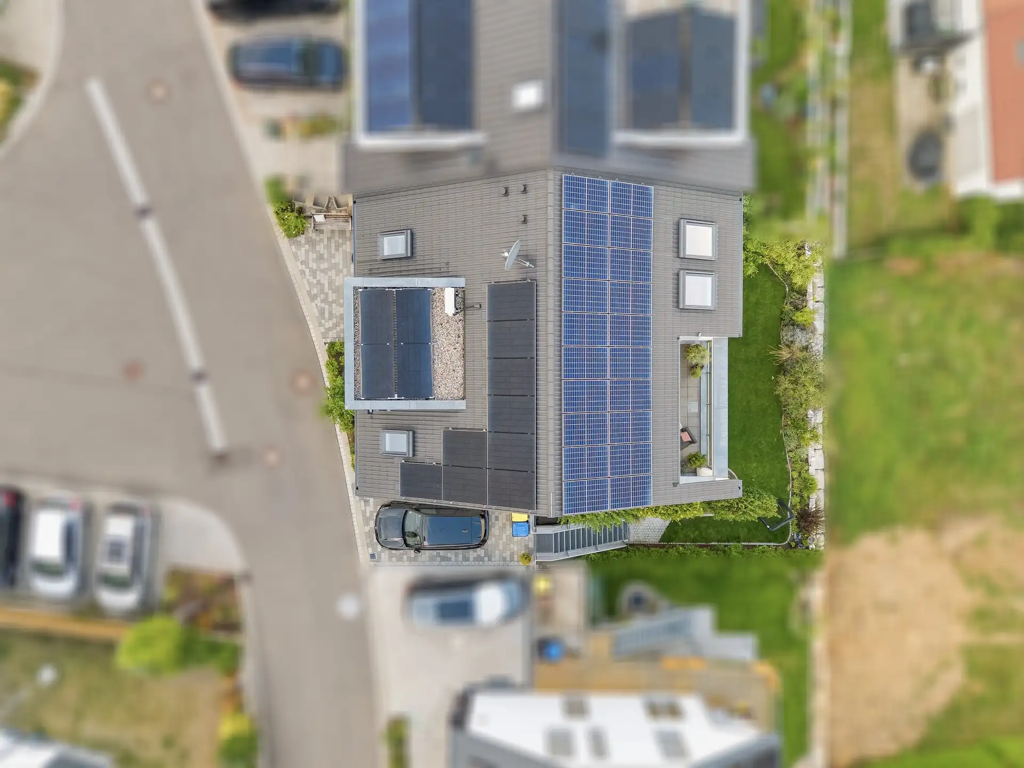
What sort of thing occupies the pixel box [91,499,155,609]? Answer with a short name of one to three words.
car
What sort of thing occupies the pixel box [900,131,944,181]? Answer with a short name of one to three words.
trampoline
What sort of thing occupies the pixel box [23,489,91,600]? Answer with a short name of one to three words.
car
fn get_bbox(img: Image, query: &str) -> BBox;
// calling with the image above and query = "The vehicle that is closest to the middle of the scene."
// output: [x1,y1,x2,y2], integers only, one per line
[377,503,489,555]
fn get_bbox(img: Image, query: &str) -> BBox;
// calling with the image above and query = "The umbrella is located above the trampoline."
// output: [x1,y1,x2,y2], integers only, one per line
[896,3,941,51]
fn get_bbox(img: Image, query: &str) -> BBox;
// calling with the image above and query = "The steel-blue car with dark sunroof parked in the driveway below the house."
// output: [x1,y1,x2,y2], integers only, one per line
[406,573,524,632]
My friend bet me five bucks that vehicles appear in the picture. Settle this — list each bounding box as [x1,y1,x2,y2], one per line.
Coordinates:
[377,503,489,555]
[23,489,91,600]
[230,32,338,92]
[406,573,524,632]
[91,499,155,609]
[0,479,32,591]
